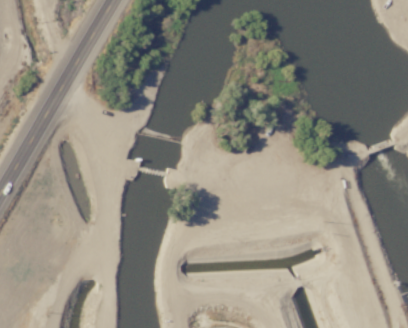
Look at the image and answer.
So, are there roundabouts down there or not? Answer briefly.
No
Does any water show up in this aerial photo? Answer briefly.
Yes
